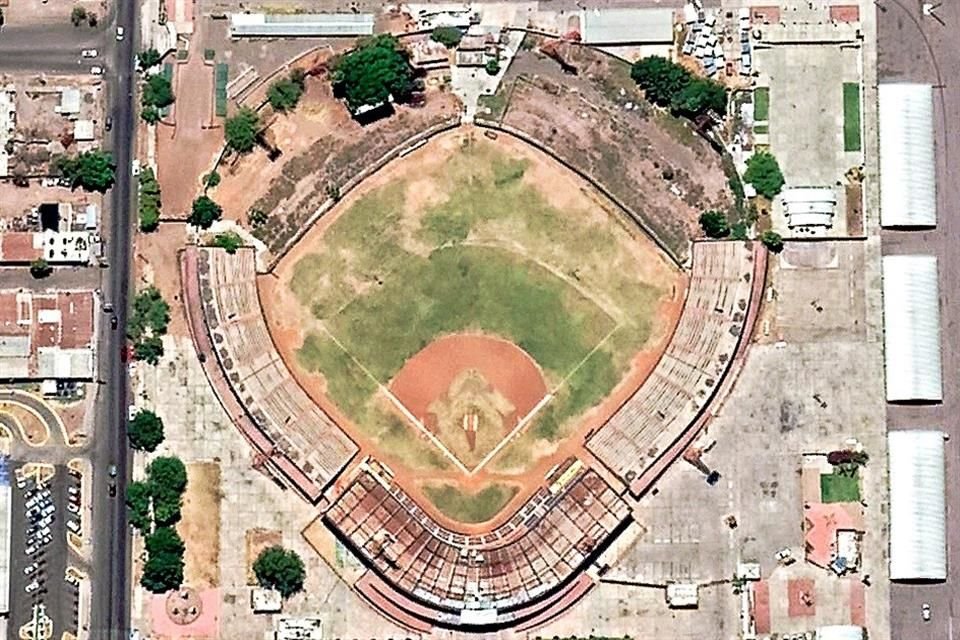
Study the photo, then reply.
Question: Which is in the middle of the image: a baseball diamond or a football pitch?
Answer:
baseball diamond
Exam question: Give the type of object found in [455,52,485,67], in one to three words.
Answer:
building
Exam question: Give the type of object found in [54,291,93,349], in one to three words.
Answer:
house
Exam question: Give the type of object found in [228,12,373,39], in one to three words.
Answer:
shed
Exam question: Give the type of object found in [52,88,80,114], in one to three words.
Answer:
house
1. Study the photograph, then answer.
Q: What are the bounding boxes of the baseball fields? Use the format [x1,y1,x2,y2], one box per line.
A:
[259,123,688,535]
